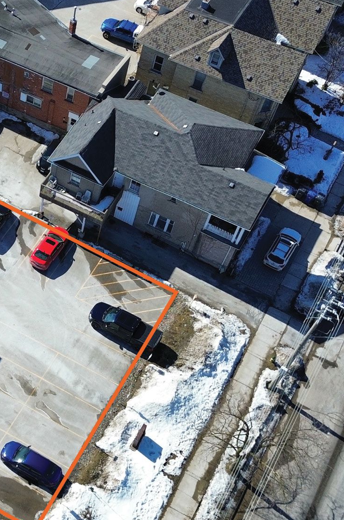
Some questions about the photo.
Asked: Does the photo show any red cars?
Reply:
Yes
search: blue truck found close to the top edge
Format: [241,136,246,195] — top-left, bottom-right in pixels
[102,20,142,50]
